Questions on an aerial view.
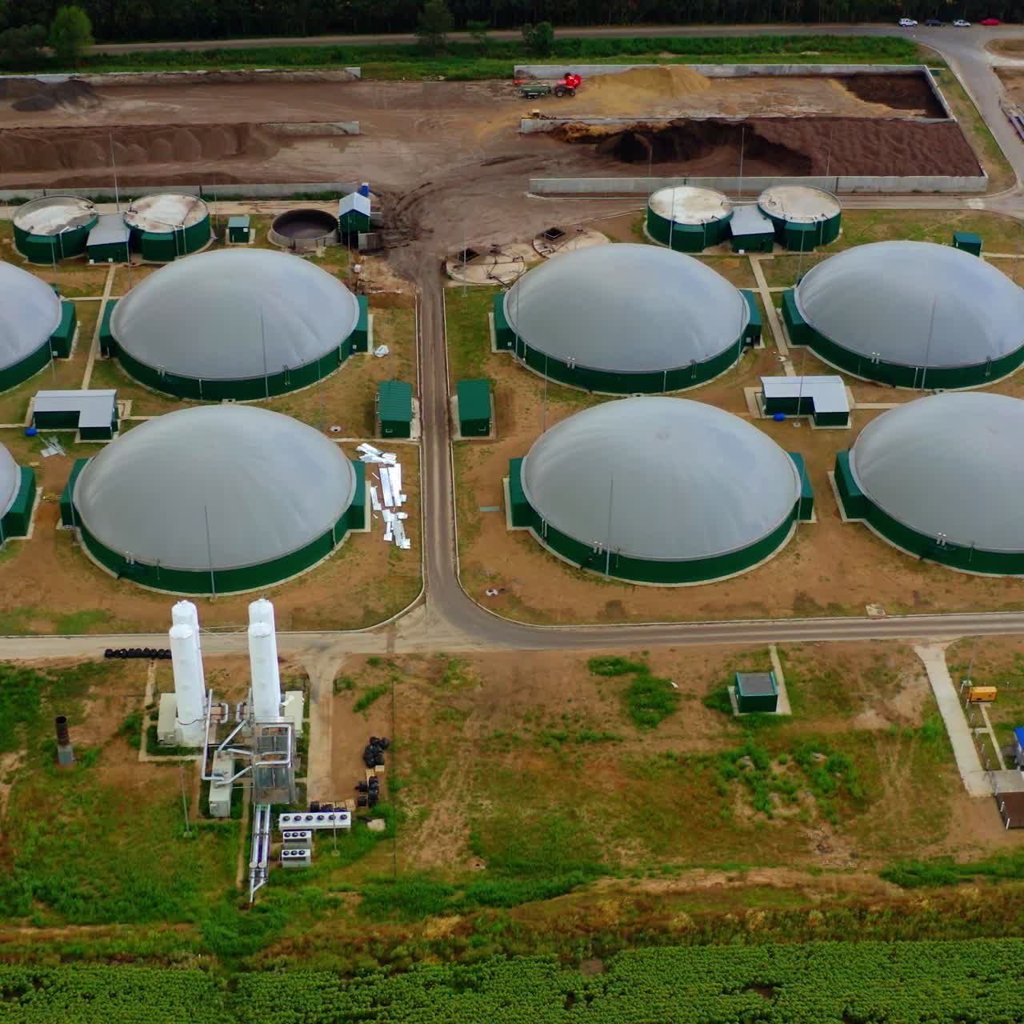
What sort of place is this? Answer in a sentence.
The picture captures an industrial area.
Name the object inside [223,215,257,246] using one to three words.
shed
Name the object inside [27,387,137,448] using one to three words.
shed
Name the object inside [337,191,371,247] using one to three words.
house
